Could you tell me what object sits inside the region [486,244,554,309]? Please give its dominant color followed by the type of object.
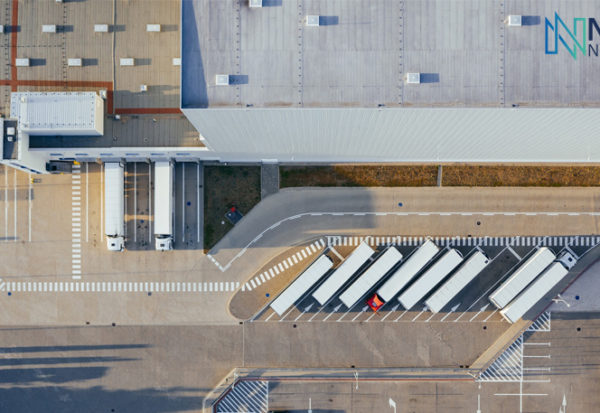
white trailer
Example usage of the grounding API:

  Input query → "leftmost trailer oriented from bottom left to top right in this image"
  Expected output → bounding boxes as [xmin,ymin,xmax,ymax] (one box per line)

[270,254,336,316]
